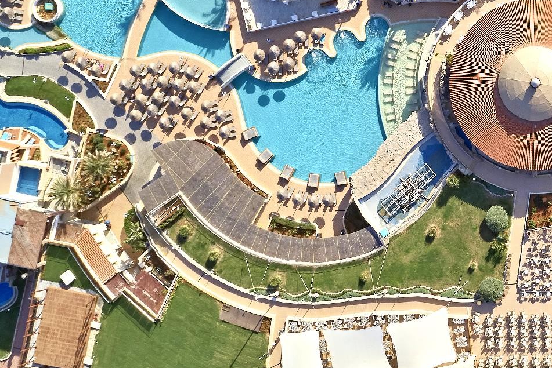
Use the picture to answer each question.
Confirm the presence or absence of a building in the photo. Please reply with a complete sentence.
Yes, a building is visible in the scene.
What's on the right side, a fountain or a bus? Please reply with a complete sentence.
What appears on the right side is a fountain.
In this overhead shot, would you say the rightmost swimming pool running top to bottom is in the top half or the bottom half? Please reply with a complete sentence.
Seen from above, the rightmost swimming pool running top to bottom lies in the top half of the view.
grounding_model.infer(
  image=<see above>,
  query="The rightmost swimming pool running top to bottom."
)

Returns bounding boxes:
[378,18,440,138]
